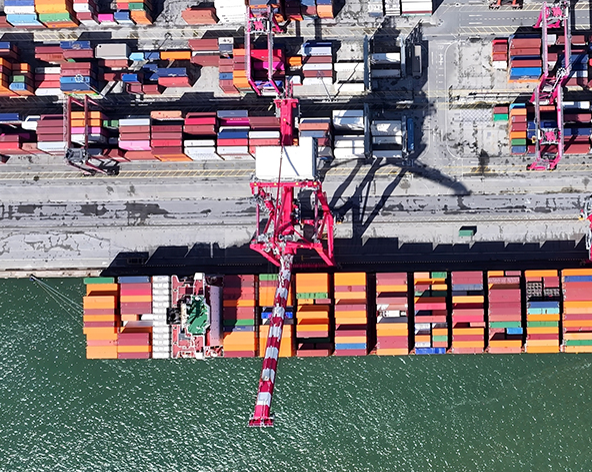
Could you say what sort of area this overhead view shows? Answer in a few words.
port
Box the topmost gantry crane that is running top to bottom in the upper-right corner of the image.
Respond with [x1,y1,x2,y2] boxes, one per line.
[529,3,572,95]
